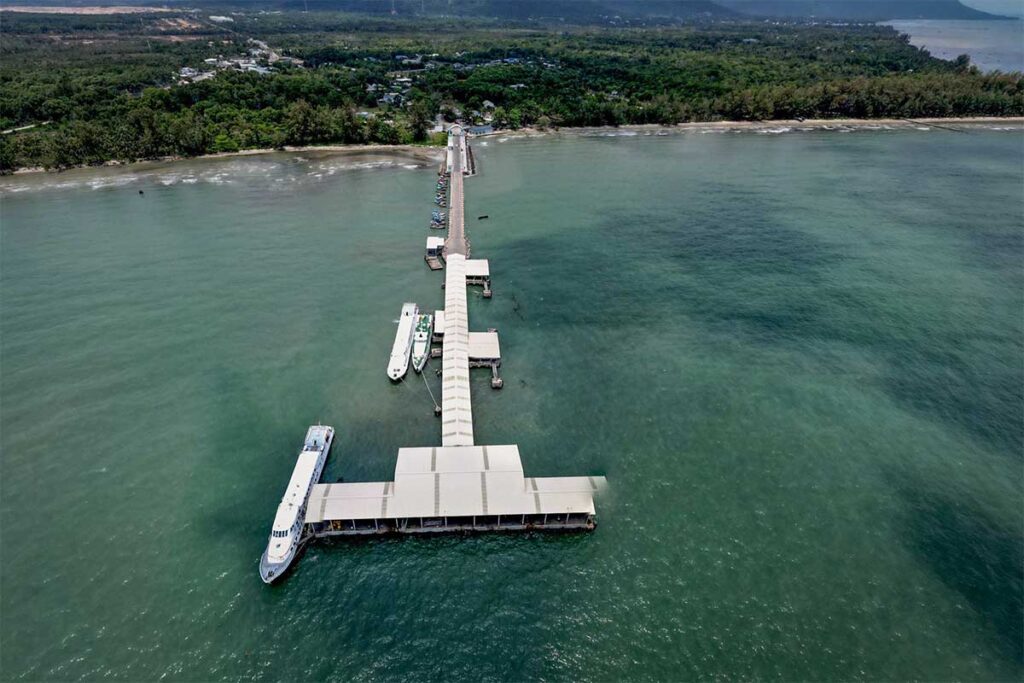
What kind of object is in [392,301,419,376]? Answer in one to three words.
vessel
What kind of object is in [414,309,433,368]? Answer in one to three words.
vessel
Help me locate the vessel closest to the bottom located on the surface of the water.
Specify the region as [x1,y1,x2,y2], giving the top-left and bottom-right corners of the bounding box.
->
[261,417,336,581]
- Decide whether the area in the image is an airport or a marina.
marina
